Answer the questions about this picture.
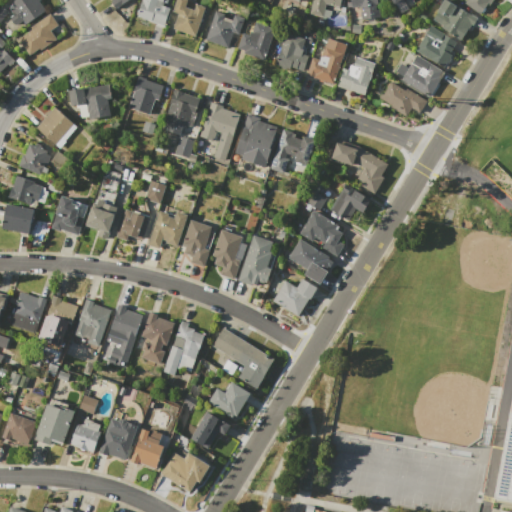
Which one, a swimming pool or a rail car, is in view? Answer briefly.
swimming pool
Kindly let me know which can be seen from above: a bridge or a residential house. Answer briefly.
residential house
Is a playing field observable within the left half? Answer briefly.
No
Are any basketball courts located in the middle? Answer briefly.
No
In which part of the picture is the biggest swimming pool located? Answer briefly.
bottom left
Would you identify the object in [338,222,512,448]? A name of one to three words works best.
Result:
sports field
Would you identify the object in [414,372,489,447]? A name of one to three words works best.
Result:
baseball field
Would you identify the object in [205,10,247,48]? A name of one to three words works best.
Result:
house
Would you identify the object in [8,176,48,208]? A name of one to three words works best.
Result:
house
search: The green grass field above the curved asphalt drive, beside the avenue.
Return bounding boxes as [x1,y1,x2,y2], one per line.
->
[462,56,512,172]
